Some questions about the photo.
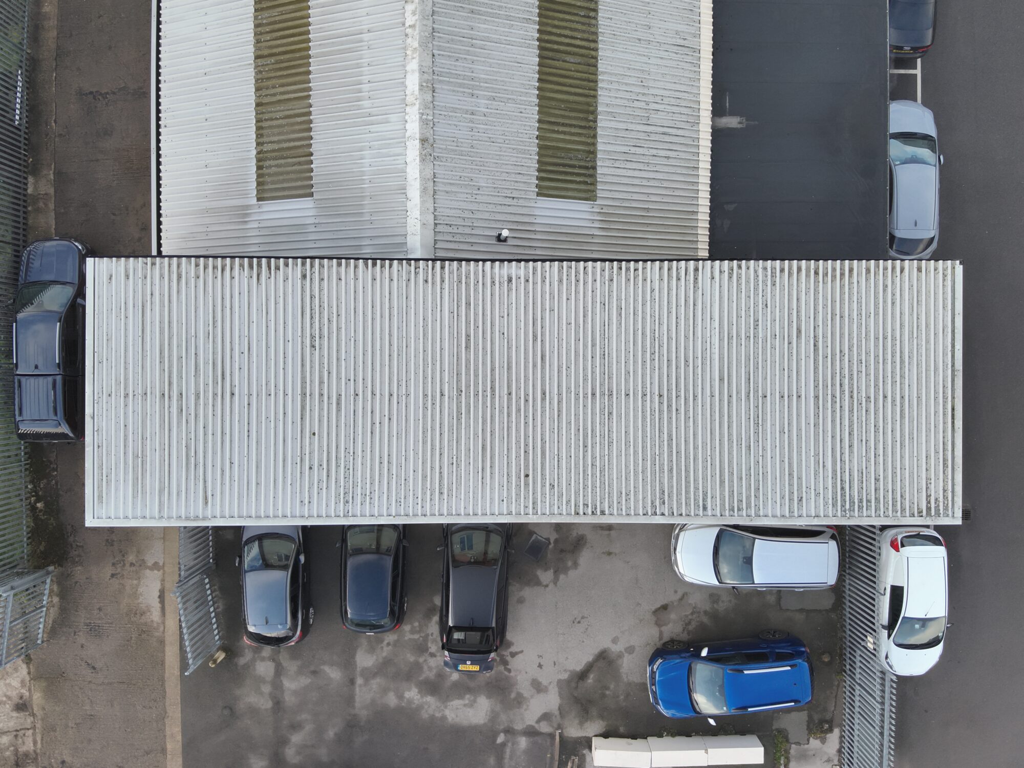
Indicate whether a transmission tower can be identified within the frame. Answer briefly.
No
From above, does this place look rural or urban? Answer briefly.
urban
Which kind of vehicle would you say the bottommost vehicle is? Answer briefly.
car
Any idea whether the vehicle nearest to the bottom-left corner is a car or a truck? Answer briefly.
car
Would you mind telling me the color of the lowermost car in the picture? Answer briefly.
blue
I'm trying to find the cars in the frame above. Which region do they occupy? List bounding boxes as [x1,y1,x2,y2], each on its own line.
[867,528,956,676]
[431,526,514,671]
[227,527,317,648]
[329,527,413,634]
[889,99,949,258]
[890,0,937,58]
[647,630,817,729]
[672,524,844,599]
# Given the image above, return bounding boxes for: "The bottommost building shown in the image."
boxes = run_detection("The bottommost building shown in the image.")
[86,254,963,528]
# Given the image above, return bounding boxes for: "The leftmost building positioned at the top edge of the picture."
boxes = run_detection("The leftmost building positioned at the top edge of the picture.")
[152,0,715,257]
